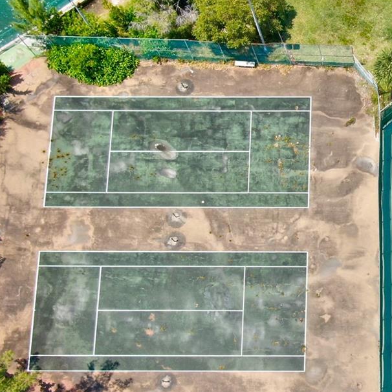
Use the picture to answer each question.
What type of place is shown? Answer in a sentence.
It's a sports ground.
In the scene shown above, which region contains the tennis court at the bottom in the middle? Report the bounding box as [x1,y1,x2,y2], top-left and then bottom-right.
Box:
[28,250,307,373]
